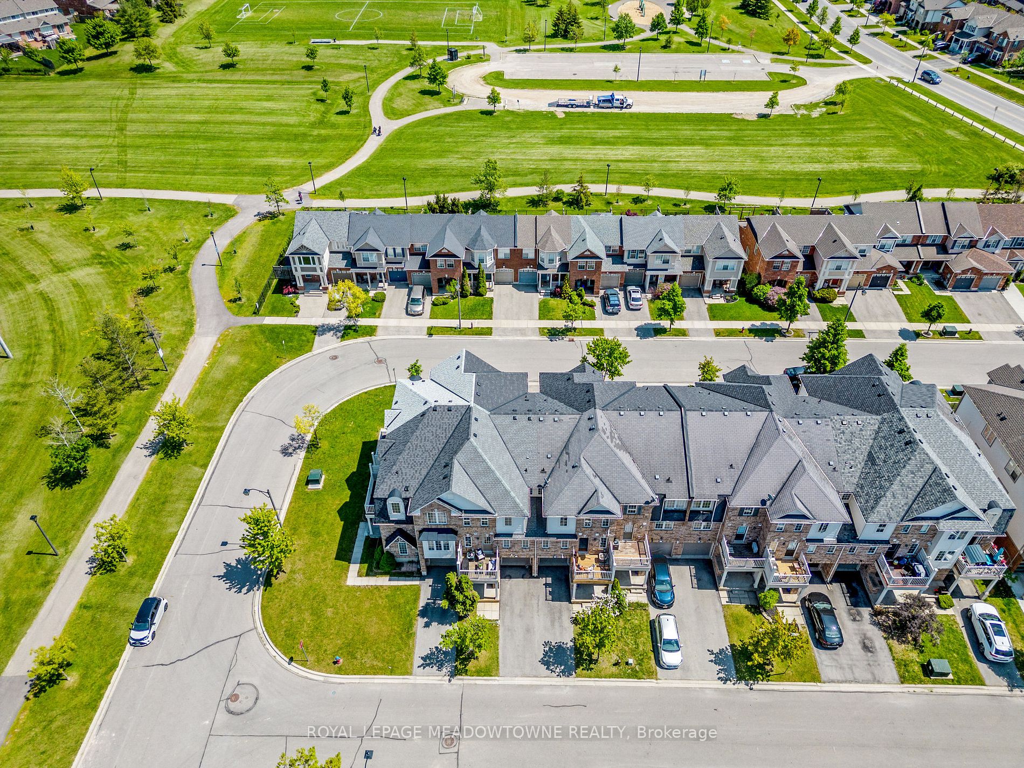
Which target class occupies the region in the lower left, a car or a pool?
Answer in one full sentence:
Visible in the lower left is a car.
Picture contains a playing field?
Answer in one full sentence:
Yes, the image includes a playing field.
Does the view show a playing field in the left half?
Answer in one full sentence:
Yes, the scene does show a playing field in the left half.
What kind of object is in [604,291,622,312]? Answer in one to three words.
car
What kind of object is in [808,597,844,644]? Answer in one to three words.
car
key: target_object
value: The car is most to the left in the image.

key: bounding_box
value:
[131,594,171,642]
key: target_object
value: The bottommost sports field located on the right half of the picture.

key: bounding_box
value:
[316,79,1024,199]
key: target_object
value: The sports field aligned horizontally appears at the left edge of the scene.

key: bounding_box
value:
[0,75,377,195]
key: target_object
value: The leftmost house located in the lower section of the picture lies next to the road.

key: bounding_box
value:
[367,349,472,579]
